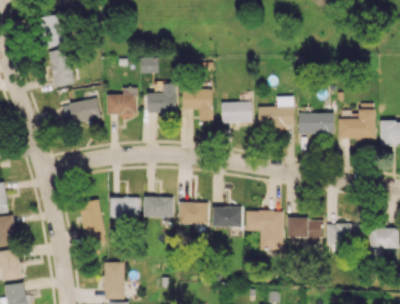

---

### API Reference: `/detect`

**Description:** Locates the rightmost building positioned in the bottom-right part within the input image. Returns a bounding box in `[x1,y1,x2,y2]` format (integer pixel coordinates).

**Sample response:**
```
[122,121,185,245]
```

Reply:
[370,228,399,248]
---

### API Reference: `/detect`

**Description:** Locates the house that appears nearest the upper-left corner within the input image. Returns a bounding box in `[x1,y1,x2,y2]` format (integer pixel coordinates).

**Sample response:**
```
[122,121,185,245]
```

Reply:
[42,16,60,46]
